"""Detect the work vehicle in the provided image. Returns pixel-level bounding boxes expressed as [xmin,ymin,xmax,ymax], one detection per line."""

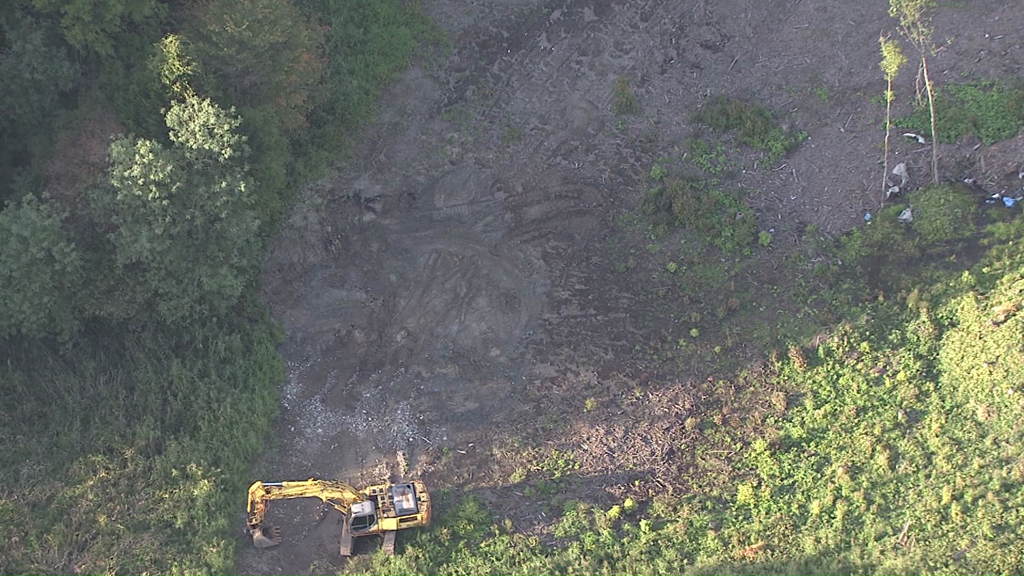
[248,474,431,556]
